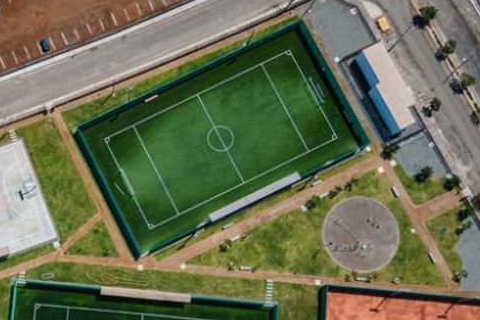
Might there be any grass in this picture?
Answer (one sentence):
Yes, some grass is visible.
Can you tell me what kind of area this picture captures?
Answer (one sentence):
The area seen from above is a sports ground.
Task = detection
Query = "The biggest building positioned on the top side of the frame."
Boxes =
[351,40,417,138]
